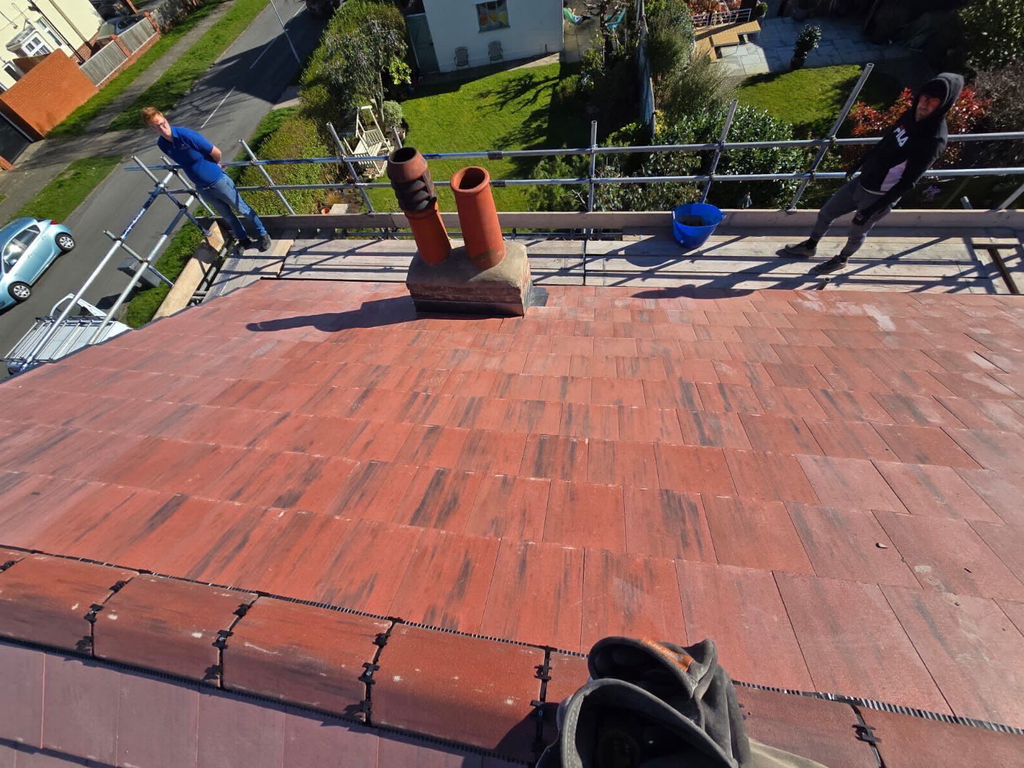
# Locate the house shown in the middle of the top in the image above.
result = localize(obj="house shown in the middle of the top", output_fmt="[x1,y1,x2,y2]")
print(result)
[418,0,560,72]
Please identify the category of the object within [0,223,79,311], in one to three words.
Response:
car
